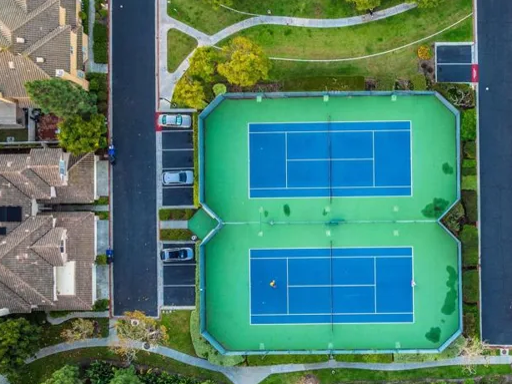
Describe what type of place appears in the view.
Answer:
sports ground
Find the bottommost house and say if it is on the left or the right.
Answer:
left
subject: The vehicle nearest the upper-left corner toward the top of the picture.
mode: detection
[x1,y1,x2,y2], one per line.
[159,114,193,129]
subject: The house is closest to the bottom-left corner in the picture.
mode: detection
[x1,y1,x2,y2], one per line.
[0,149,98,316]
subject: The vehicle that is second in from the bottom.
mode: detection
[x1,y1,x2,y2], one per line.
[163,170,193,184]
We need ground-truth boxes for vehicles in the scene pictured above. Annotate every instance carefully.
[159,114,193,129]
[163,246,195,261]
[163,170,193,184]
